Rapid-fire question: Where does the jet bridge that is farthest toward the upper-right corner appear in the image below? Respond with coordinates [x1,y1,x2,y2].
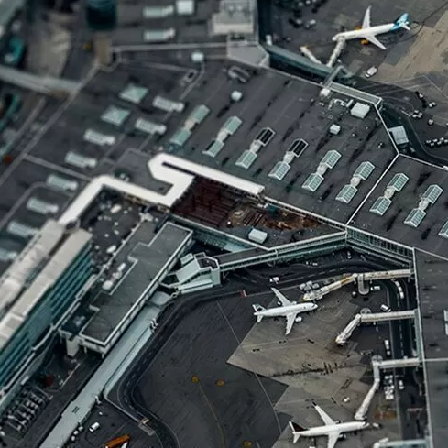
[323,33,348,70]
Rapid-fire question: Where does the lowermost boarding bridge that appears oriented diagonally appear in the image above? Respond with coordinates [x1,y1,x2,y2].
[351,357,421,424]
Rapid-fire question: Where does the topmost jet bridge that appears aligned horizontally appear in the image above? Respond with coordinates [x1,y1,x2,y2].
[298,265,414,306]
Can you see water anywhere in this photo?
No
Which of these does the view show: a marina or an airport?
airport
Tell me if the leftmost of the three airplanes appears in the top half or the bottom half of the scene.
bottom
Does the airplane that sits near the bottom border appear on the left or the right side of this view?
right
